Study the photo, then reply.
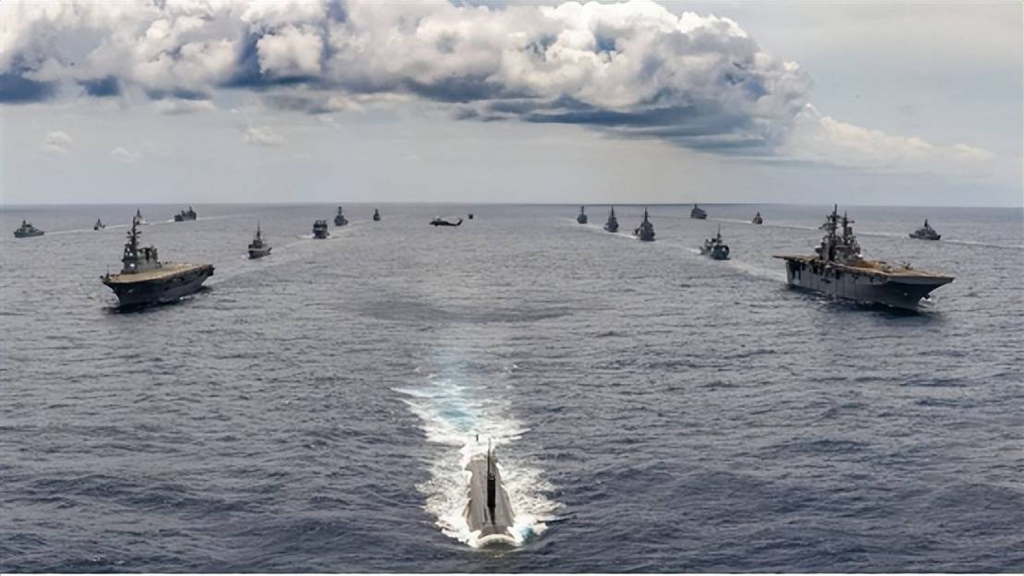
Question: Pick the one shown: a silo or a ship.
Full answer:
Visible in the photo is a ship.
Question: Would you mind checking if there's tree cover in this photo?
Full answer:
No, there is no tree cover in the image.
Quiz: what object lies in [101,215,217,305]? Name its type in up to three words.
ship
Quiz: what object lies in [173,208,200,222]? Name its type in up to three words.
ship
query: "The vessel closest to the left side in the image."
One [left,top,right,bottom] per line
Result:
[12,220,48,238]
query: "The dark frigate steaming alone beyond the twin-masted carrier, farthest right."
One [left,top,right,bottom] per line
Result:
[905,219,941,241]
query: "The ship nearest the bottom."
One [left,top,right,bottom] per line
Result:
[464,433,516,530]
